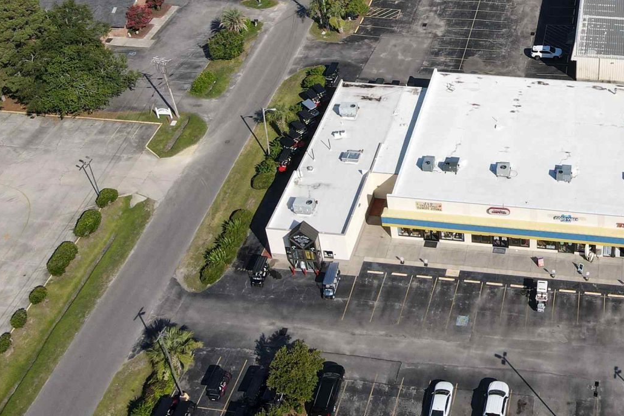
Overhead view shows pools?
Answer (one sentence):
No, no pool is visible in the view.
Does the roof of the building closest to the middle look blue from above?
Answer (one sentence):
No, from above the roof of the building closest to the middle looks white.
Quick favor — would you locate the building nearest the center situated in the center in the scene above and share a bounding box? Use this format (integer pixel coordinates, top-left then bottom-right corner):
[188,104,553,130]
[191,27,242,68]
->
[263,76,424,271]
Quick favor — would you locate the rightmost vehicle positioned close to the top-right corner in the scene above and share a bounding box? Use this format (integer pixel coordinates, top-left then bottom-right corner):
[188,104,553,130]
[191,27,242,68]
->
[531,44,562,60]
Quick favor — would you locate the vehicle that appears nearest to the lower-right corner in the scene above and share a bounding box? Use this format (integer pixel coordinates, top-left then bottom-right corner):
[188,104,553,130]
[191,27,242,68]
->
[484,385,507,416]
